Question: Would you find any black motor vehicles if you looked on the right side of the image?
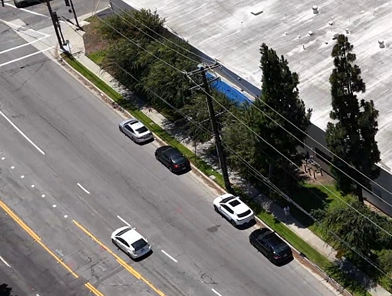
Yes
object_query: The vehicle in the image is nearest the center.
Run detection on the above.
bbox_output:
[155,147,191,176]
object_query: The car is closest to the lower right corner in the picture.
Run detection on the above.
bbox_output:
[249,231,294,268]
